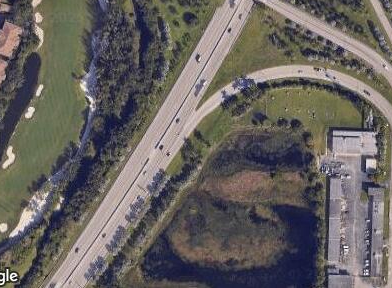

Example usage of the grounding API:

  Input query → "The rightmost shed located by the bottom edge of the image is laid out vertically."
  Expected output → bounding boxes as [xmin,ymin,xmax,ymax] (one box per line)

[369,188,384,276]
